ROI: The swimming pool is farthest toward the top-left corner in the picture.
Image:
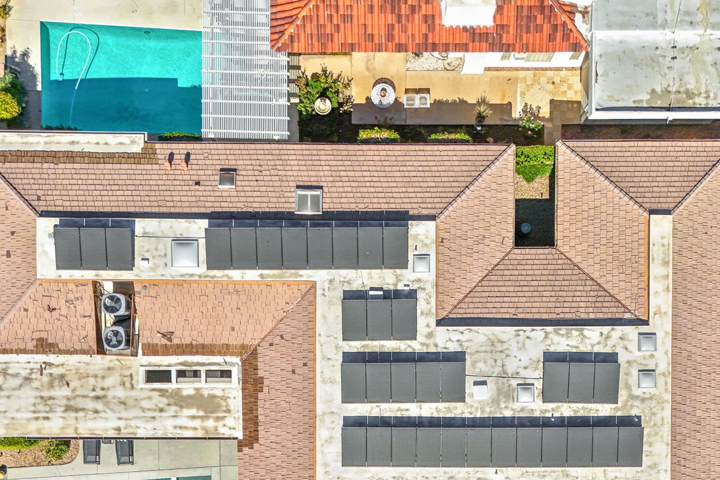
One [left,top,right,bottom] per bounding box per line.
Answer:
[42,23,255,131]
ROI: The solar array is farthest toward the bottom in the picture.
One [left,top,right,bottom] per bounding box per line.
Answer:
[342,427,644,467]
